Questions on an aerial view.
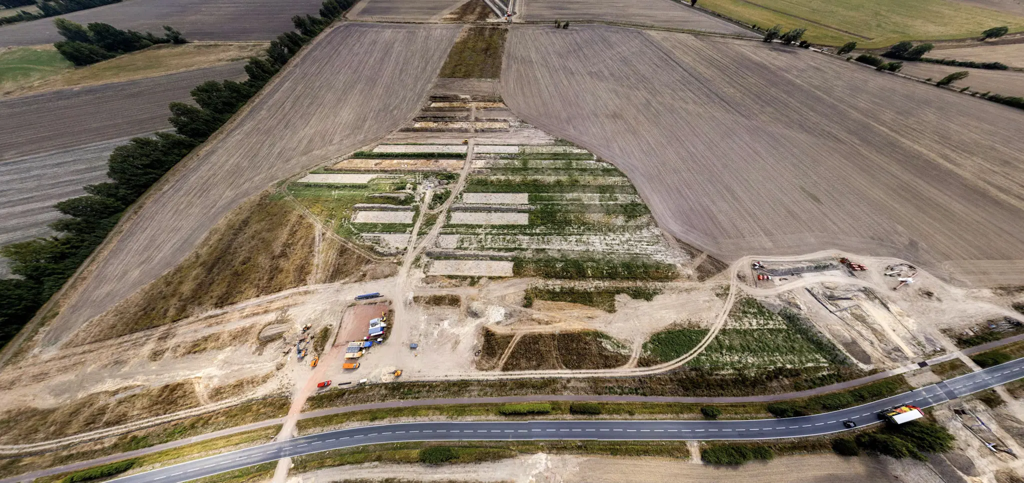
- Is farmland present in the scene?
Yes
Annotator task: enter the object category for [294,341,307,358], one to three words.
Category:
vehicle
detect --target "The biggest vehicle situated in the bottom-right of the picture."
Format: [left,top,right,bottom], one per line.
[872,402,925,424]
